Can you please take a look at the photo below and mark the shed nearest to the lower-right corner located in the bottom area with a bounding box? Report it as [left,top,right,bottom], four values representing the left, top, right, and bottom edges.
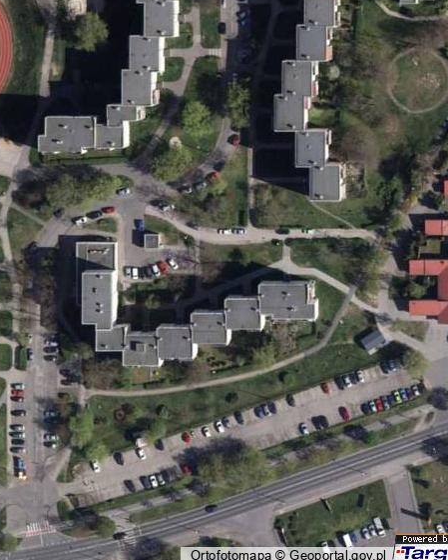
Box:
[361,331,385,355]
